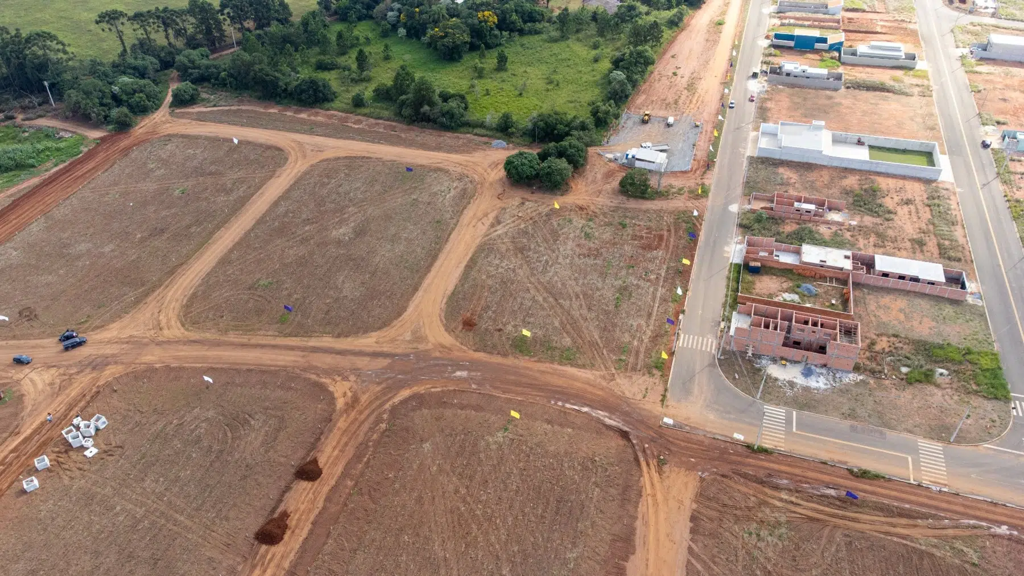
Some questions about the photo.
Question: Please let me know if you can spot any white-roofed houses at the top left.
No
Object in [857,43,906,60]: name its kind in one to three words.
house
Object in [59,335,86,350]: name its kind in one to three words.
car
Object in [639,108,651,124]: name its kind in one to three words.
vehicle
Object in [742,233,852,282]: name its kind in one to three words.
house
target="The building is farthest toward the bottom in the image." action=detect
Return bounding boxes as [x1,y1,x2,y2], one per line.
[729,301,861,373]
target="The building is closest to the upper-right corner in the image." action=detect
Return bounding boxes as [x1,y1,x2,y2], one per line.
[970,33,1024,63]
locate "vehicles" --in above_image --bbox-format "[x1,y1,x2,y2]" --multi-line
[750,93,756,100]
[59,335,86,350]
[759,68,771,74]
[10,354,32,365]
[857,137,871,147]
[641,138,672,152]
[667,109,677,124]
[729,99,736,107]
[639,108,651,124]
[57,326,79,341]
[692,118,701,127]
